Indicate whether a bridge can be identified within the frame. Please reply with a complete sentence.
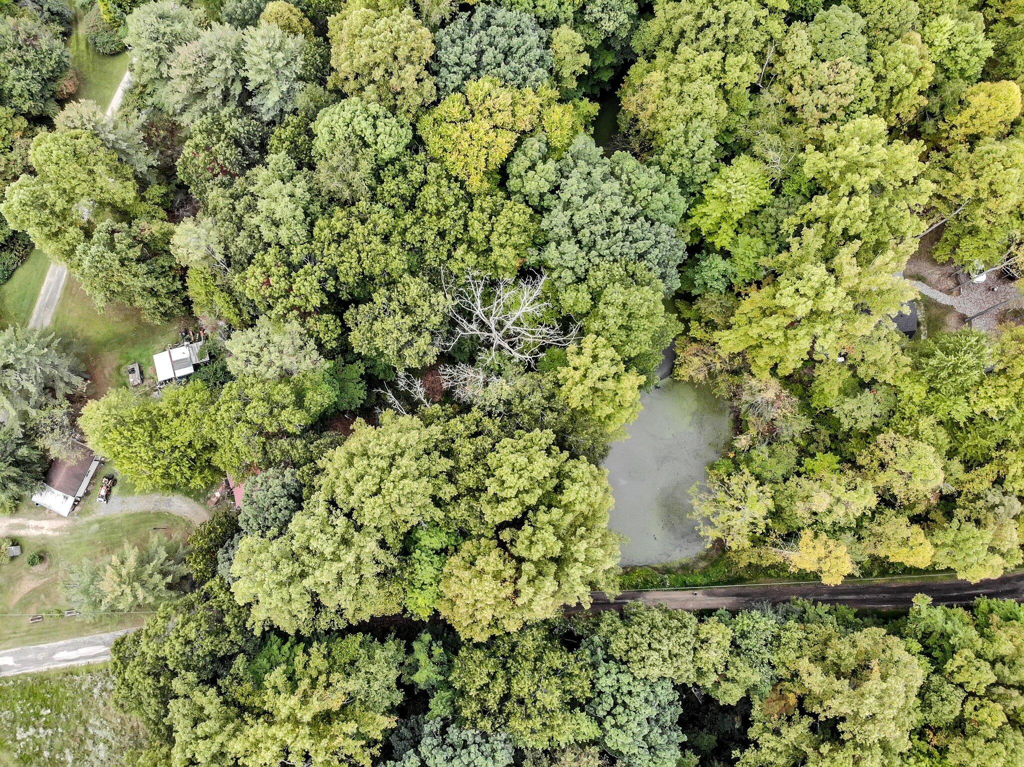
No, no bridge is visible in the view.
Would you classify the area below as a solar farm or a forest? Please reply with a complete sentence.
The picture captures a forest.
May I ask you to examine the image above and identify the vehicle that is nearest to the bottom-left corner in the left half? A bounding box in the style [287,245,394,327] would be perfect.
[94,478,114,506]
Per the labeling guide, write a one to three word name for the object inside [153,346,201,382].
shed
